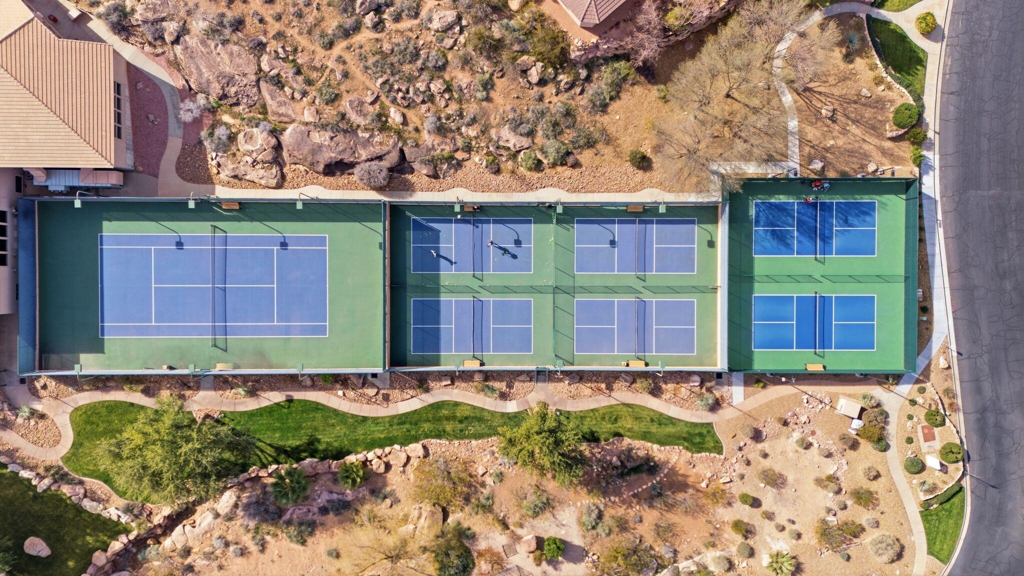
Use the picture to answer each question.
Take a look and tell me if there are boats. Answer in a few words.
No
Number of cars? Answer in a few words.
0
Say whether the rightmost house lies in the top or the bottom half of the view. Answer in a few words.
top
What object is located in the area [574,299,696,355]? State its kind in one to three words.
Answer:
sports court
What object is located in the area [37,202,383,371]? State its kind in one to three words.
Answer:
tennis court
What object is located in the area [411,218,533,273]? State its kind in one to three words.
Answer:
sports court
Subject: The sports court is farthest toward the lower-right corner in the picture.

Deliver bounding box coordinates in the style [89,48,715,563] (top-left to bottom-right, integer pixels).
[753,295,877,351]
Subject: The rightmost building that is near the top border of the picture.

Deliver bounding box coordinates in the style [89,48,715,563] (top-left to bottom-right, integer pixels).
[553,0,627,30]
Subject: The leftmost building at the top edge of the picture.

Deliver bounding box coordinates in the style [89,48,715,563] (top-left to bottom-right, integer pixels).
[0,0,137,169]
